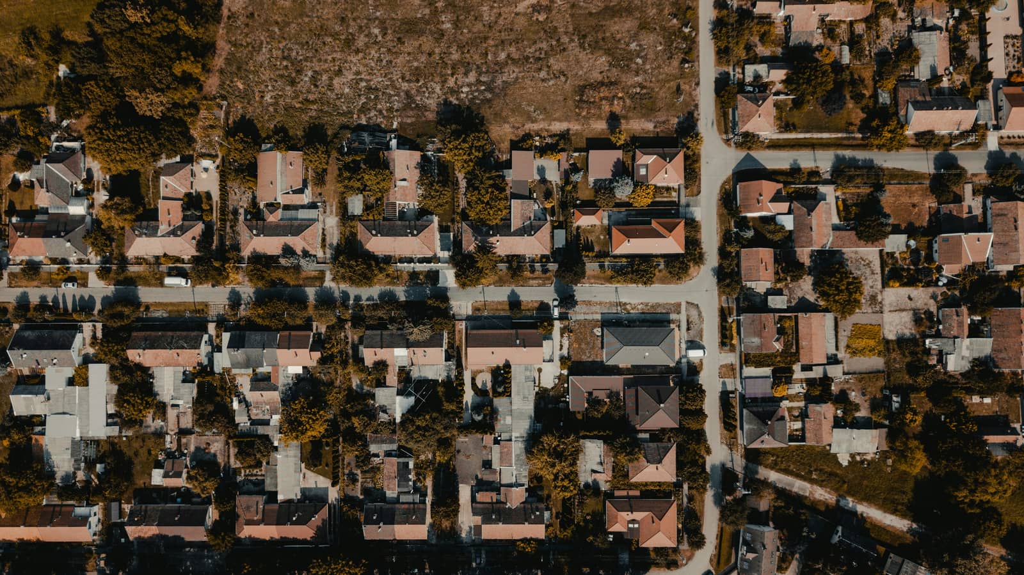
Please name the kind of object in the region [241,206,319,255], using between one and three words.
house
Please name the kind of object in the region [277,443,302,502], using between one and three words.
barn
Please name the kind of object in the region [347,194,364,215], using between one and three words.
shed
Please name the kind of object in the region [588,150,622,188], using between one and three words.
building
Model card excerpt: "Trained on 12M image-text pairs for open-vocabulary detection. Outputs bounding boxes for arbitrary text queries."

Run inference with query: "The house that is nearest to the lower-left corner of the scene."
[0,504,100,542]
